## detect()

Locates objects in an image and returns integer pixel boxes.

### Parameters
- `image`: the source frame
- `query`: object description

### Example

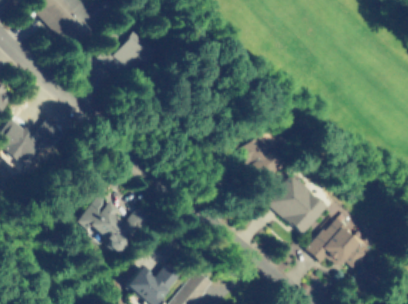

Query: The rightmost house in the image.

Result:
[306,216,366,268]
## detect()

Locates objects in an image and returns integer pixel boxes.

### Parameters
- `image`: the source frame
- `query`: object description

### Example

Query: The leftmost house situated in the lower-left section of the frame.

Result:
[78,196,128,251]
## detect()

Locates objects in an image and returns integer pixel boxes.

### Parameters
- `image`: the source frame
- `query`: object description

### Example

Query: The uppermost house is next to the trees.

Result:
[37,0,94,46]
